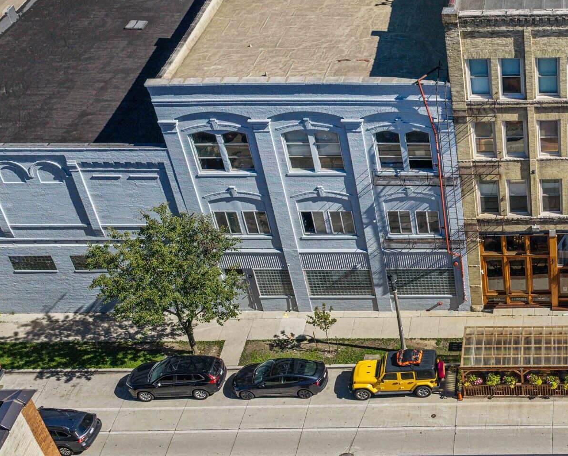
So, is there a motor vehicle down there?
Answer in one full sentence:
Yes, the photo shows a motor vehicle.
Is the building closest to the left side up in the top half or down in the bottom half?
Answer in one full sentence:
The bottom half of the photo is where the building closest to the left side is.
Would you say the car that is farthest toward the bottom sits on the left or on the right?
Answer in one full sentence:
The car that is farthest toward the bottom appears in the left half of the scene.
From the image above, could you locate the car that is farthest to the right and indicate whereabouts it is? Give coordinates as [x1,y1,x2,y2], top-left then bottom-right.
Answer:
[348,350,446,400]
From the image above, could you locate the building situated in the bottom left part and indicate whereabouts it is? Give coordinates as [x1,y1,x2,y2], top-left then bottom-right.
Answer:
[0,401,54,456]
